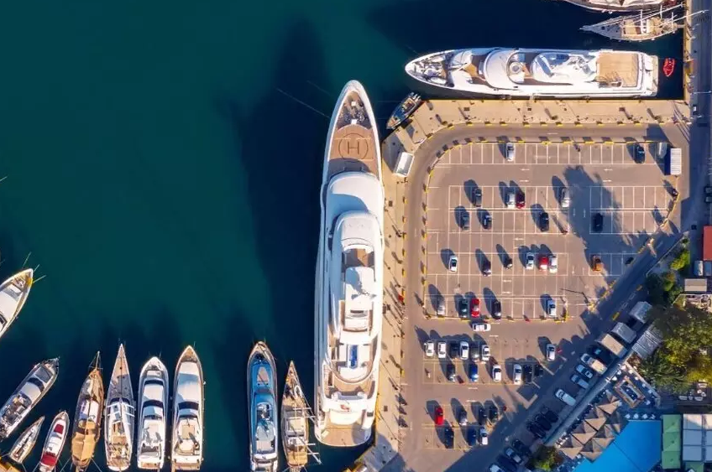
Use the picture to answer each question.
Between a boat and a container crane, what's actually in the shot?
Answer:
boat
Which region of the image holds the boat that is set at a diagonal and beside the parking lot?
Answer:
top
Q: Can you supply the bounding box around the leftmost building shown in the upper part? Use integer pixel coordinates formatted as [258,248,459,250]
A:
[390,151,413,177]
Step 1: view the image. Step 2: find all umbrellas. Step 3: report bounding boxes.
[606,408,631,432]
[580,437,605,461]
[593,422,618,447]
[597,391,623,414]
[584,404,609,428]
[662,414,681,432]
[662,432,681,451]
[662,451,681,468]
[557,433,582,458]
[570,418,596,444]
